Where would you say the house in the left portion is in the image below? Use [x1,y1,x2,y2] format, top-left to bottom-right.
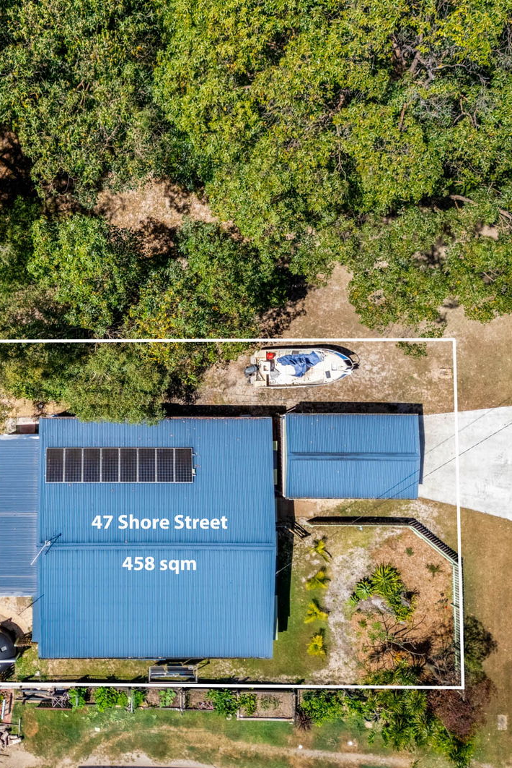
[0,413,277,662]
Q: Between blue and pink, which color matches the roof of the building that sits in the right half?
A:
blue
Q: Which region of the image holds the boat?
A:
center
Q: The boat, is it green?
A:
No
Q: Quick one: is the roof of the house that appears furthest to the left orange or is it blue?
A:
blue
